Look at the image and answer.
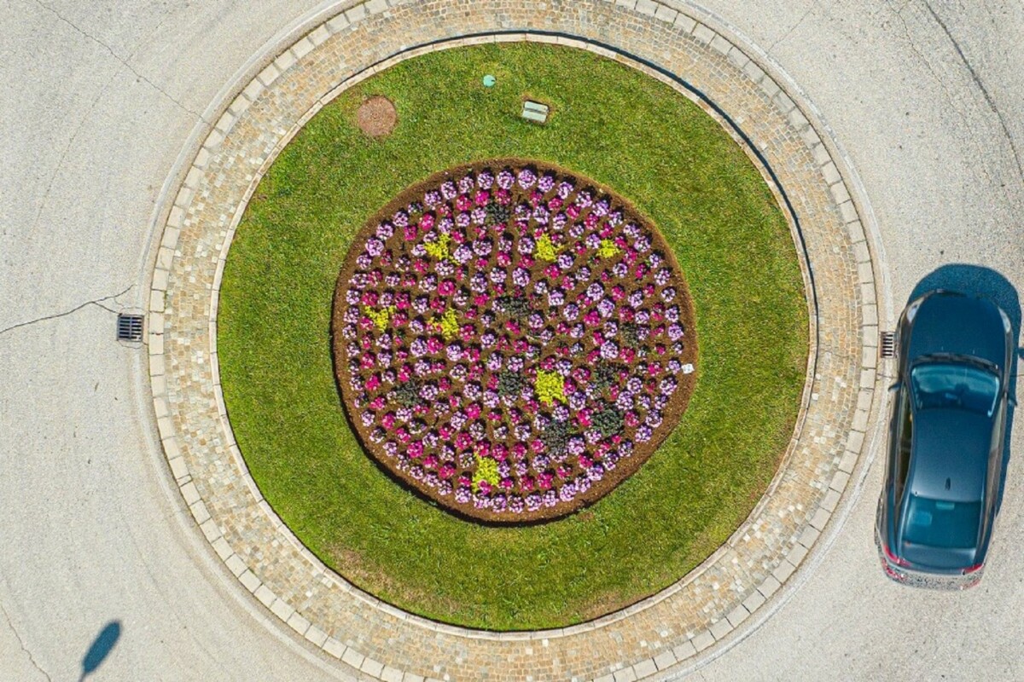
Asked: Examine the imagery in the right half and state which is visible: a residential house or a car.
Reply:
car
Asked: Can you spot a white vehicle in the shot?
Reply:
No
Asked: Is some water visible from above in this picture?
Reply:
No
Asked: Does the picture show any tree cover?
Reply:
No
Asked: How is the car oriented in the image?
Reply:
vertically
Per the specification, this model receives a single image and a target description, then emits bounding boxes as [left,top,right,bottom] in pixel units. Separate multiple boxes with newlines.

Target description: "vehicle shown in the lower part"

[873,289,1022,590]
